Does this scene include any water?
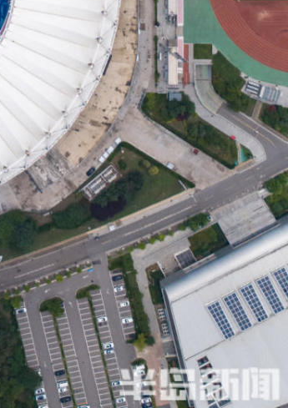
No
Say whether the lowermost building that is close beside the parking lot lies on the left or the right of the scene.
right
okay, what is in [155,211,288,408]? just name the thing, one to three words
building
